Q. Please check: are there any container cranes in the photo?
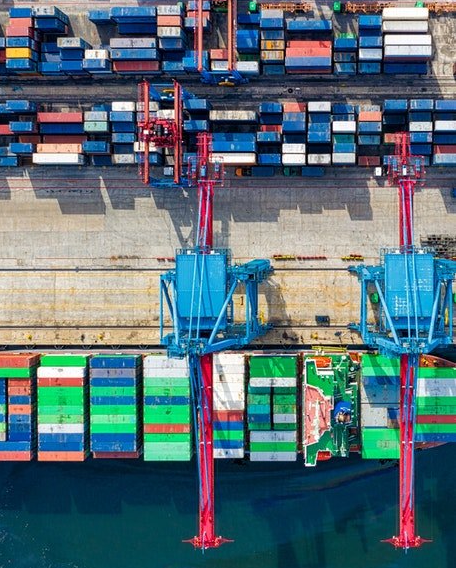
Yes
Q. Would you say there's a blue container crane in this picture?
Yes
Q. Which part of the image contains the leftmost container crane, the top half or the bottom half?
top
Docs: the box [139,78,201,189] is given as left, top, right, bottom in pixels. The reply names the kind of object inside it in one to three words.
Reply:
container crane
